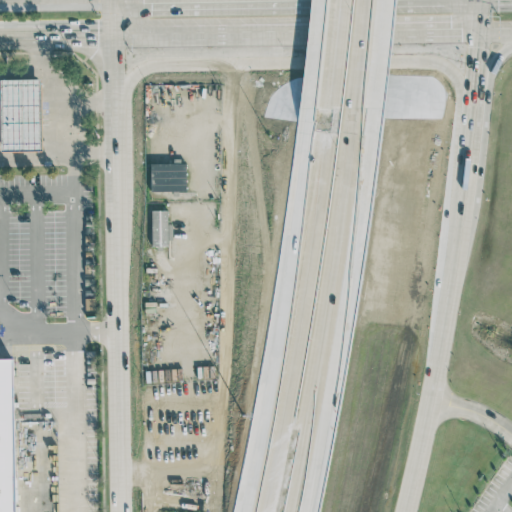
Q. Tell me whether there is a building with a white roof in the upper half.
Yes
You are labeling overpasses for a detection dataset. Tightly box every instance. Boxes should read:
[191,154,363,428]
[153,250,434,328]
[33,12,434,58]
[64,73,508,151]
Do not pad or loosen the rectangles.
[300,0,396,108]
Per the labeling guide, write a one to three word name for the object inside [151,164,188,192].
building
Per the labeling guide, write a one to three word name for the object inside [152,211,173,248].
barn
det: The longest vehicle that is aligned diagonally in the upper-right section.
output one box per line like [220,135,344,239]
[490,50,506,74]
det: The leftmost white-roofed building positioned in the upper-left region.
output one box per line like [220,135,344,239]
[0,80,42,153]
